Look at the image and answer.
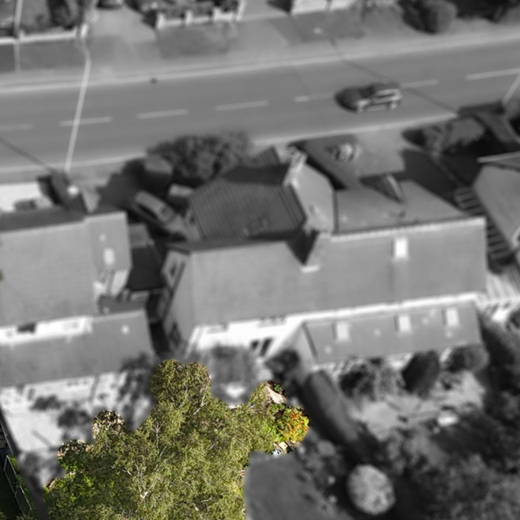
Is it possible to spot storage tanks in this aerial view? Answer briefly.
No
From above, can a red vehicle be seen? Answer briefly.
No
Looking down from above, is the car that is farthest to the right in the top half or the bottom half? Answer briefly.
top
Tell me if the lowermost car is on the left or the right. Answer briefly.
left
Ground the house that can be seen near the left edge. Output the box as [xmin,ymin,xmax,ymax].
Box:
[0,173,154,404]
